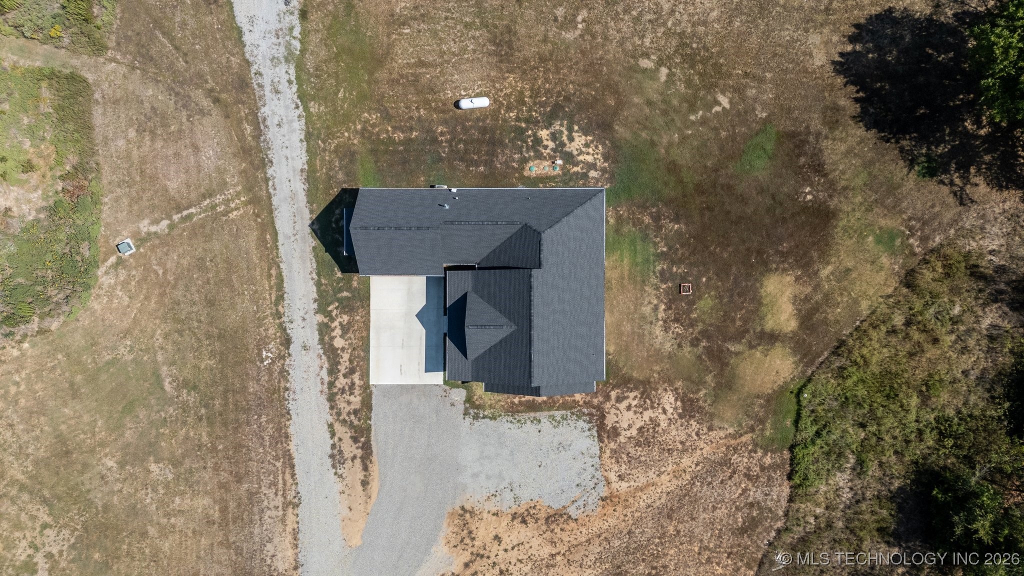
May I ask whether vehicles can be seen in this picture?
No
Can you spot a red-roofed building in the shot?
No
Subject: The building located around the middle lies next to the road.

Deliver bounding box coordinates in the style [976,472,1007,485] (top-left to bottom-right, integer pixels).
[344,188,605,397]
